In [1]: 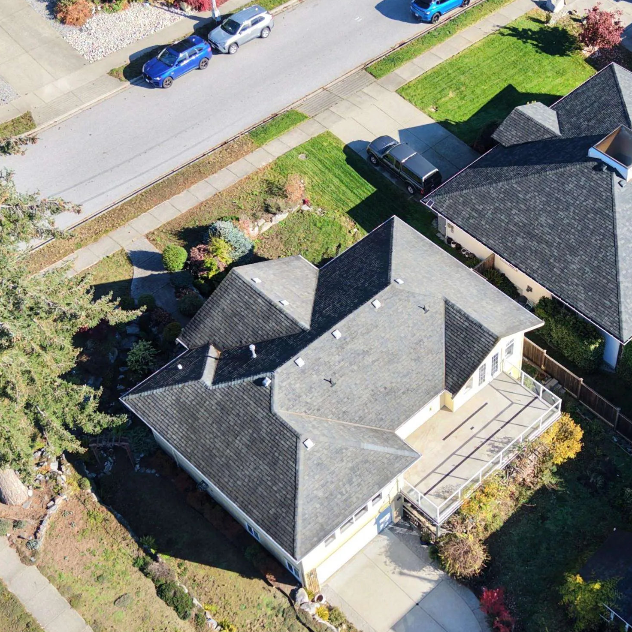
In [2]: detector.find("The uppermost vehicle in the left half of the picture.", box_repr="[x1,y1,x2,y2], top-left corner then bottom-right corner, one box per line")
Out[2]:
[205,5,273,55]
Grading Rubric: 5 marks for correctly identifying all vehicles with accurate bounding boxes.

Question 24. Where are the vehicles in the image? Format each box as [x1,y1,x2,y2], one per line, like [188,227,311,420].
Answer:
[205,5,273,55]
[409,0,471,24]
[138,36,212,89]
[365,135,442,193]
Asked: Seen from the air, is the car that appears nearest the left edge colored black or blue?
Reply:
blue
